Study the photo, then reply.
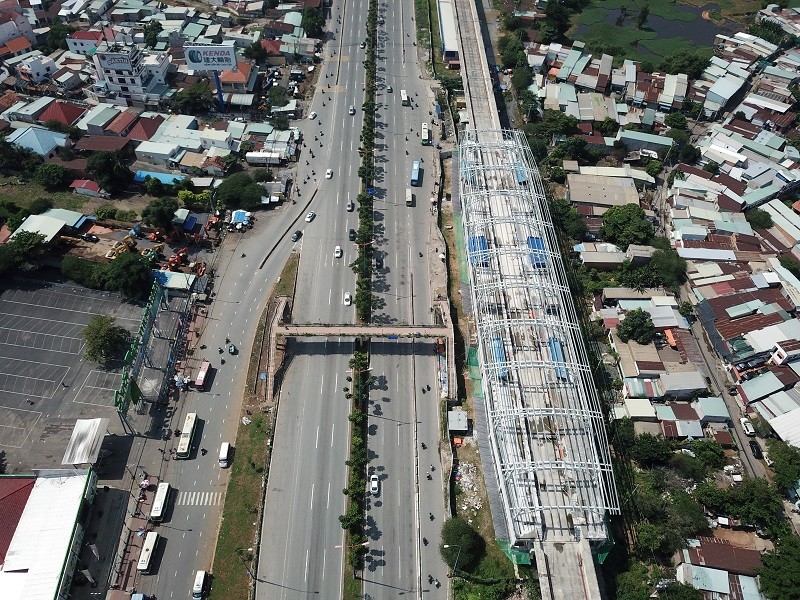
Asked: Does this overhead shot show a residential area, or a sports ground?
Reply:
residential area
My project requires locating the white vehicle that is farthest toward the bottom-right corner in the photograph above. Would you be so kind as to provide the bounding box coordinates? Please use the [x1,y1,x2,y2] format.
[740,417,757,438]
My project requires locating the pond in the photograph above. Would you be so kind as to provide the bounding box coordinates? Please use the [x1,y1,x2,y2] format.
[564,0,749,74]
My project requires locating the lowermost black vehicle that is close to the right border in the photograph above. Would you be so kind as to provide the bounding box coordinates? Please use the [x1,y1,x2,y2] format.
[746,438,763,459]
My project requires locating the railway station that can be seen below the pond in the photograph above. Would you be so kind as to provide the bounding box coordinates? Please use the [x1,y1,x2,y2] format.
[452,120,624,575]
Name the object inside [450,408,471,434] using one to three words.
building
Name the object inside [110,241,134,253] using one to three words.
vehicle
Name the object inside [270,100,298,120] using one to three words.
house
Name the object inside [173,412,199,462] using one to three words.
bus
